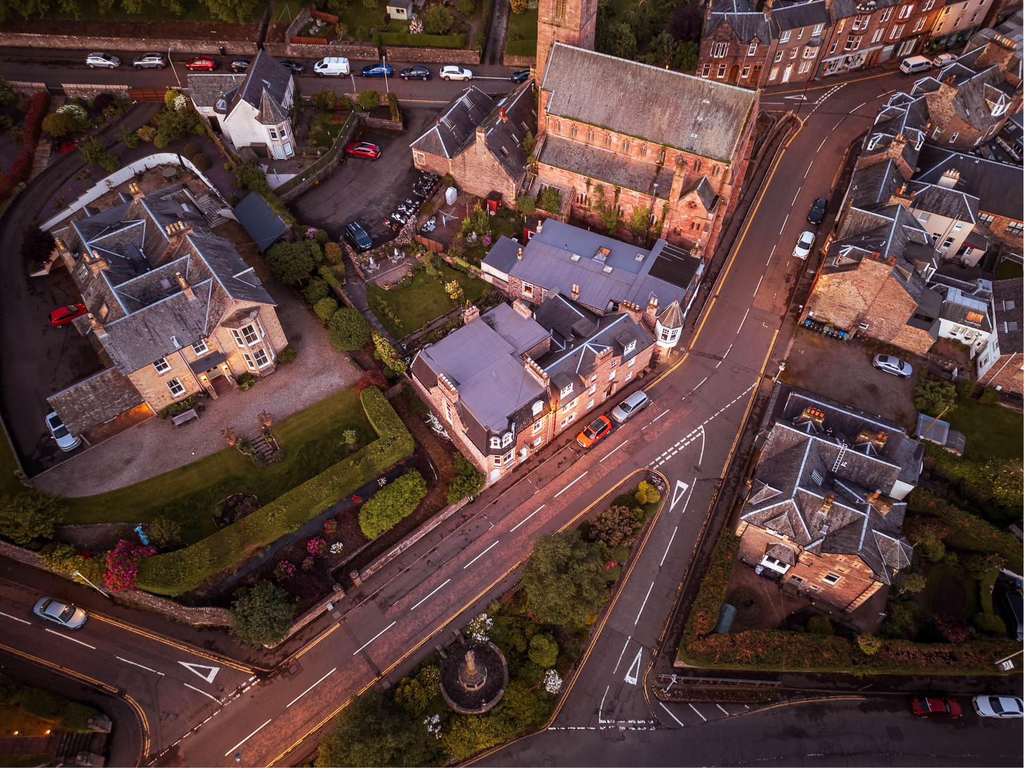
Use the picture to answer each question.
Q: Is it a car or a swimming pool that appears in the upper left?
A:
car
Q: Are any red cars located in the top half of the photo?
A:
Yes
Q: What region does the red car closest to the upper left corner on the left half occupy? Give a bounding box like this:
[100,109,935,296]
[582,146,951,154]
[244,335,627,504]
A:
[185,55,219,72]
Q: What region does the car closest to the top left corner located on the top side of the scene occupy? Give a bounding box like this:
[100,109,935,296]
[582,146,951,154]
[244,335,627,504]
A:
[84,51,122,70]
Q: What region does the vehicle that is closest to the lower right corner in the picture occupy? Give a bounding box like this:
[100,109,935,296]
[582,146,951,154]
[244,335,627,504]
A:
[968,691,1024,721]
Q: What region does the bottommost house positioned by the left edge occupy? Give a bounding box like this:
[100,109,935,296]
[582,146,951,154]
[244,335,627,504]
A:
[46,172,287,447]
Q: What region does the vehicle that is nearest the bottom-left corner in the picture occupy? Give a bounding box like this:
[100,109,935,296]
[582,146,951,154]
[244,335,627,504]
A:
[30,593,91,632]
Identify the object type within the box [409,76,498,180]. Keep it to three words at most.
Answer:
building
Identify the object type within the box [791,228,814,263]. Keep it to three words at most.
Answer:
car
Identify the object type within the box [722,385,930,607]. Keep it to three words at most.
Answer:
house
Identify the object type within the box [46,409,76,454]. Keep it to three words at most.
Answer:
car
